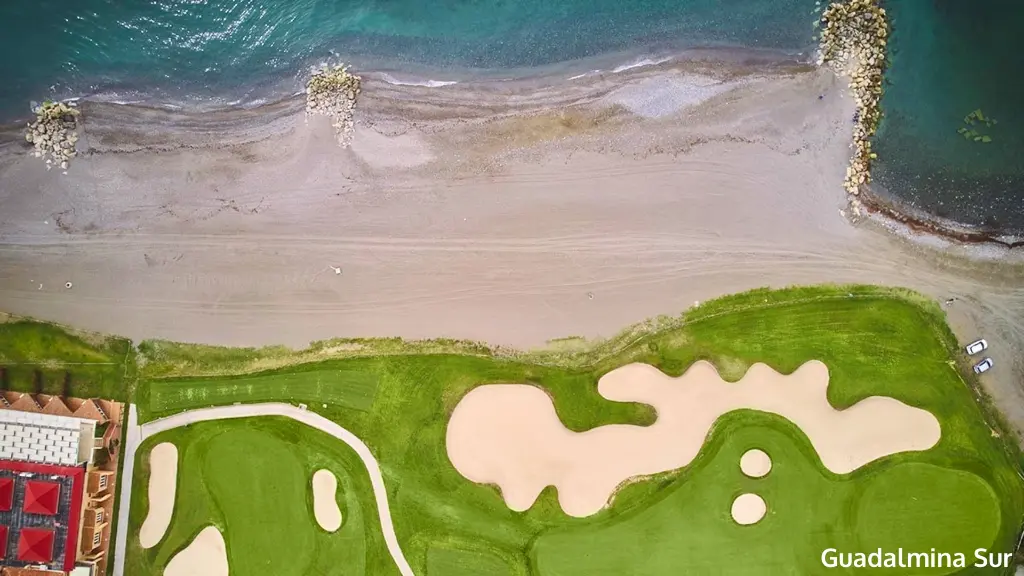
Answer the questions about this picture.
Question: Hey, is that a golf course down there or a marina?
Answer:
golf course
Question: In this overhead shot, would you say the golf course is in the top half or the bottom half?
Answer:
bottom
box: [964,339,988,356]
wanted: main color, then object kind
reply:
white car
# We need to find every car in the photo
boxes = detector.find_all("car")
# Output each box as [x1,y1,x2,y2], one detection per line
[964,339,988,356]
[972,358,994,375]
